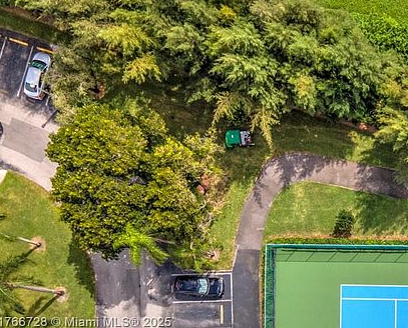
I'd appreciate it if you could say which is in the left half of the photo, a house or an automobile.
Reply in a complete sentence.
The feature located in the left half of the photo is an automobile.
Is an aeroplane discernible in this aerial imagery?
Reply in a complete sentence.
No, no aeroplane is visible in the scene.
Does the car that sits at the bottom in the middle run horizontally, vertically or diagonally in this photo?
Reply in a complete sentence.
In this picture, the car that sits at the bottom in the middle lies horizontally.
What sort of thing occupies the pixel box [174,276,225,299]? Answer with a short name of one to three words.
car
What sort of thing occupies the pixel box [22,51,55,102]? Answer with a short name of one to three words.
car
